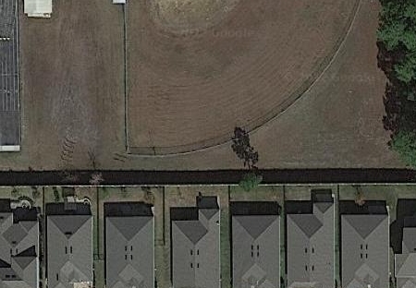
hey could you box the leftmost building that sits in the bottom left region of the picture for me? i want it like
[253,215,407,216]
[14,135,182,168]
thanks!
[0,213,38,288]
